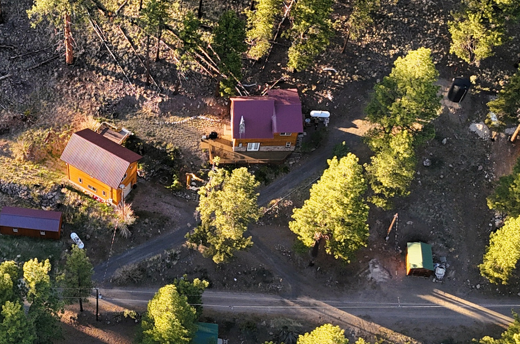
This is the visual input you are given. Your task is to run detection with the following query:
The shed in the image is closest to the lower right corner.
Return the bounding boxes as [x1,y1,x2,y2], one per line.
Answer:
[404,239,433,277]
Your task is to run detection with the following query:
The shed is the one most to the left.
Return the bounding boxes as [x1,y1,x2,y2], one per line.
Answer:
[0,205,61,239]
